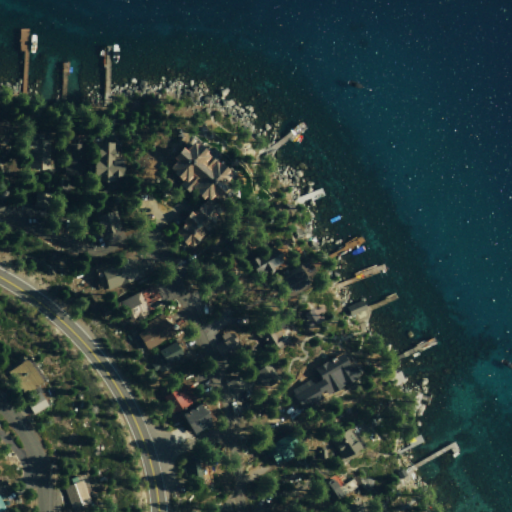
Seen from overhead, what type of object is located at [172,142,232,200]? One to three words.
house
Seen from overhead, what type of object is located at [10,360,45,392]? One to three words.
house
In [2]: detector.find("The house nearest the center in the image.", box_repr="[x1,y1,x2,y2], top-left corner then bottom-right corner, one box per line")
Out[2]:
[254,252,286,274]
